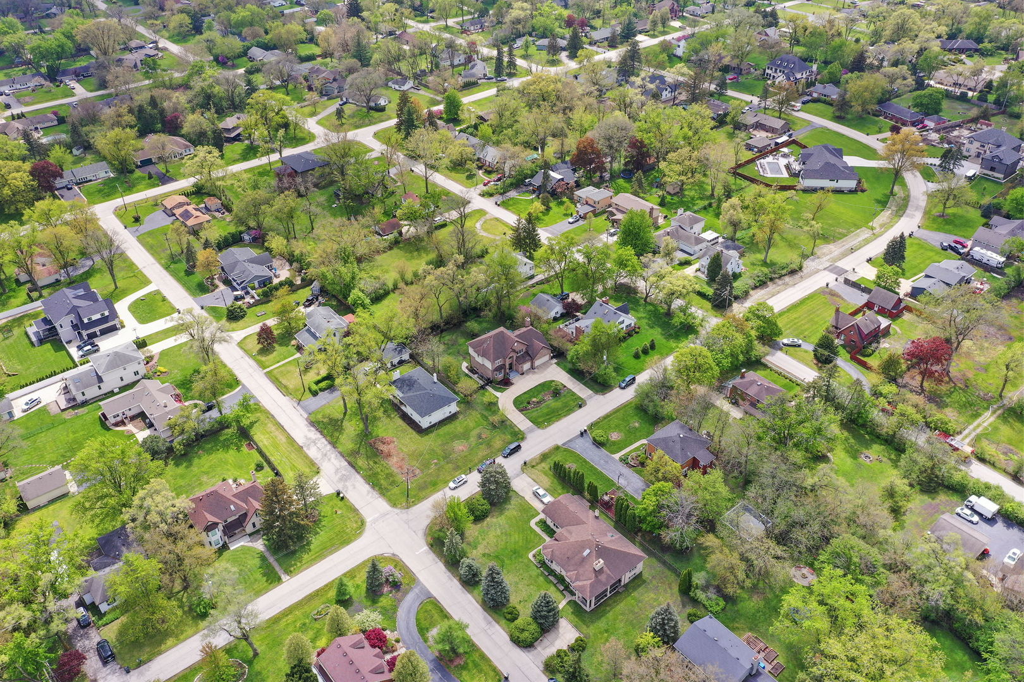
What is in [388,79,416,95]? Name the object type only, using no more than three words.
building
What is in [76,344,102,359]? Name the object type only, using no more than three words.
vehicle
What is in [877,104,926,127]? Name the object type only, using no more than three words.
house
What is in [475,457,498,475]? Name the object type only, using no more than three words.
car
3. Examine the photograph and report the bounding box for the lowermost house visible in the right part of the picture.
[673,615,779,682]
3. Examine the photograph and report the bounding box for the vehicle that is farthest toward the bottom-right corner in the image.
[1002,548,1023,568]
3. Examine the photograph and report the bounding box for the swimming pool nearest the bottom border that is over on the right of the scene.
[766,161,784,174]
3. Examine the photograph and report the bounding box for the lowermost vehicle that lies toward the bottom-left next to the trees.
[95,637,116,665]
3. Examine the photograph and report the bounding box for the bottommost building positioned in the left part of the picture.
[312,633,385,682]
